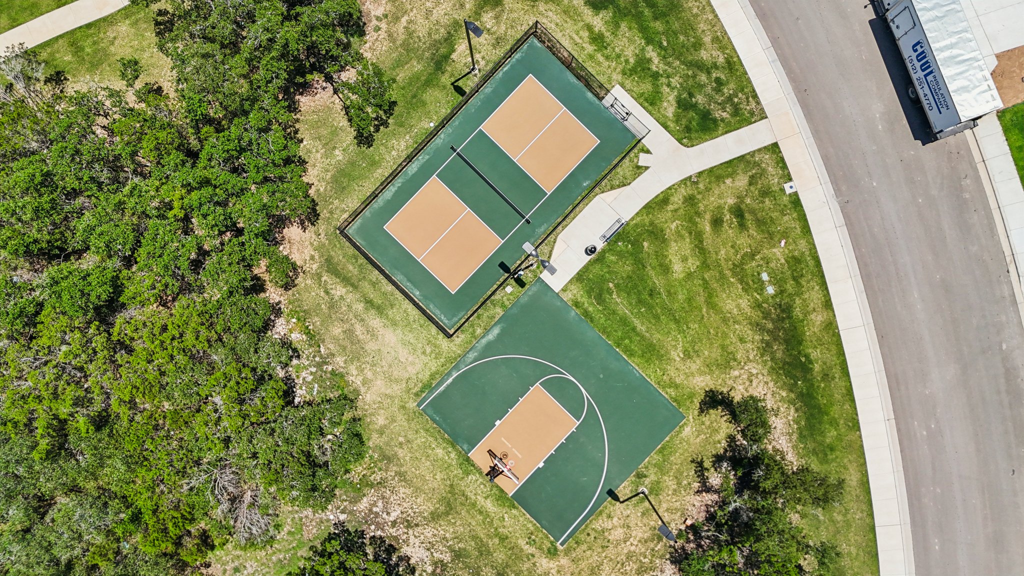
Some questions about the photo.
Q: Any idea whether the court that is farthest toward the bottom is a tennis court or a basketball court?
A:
basketball court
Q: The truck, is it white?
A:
Yes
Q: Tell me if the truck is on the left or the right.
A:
right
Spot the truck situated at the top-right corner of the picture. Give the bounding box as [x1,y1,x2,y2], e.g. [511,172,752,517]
[871,0,1004,139]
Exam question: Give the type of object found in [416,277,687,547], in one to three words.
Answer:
basketball court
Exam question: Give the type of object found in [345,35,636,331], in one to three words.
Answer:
sports court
